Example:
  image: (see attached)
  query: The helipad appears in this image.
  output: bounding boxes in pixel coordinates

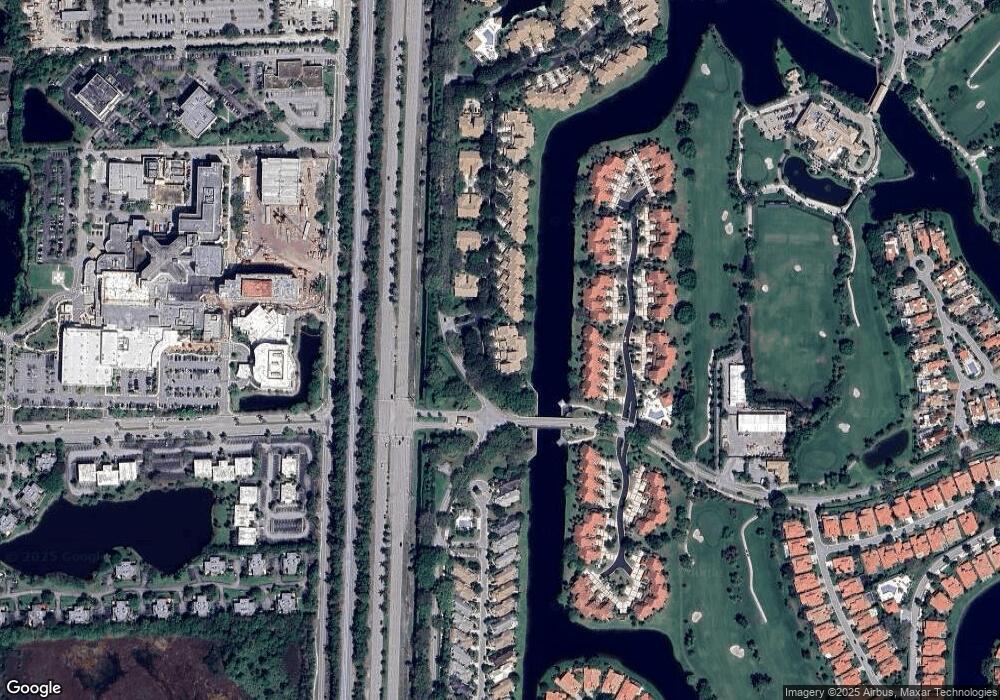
[52,270,64,283]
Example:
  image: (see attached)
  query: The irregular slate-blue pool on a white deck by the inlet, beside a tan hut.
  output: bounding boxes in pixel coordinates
[466,18,502,62]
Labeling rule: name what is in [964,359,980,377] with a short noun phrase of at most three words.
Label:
swimming pool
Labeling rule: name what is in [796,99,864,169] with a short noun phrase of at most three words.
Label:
building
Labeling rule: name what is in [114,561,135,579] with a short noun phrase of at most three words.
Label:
house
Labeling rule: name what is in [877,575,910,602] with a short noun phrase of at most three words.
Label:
swimming pool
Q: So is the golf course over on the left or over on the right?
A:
right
